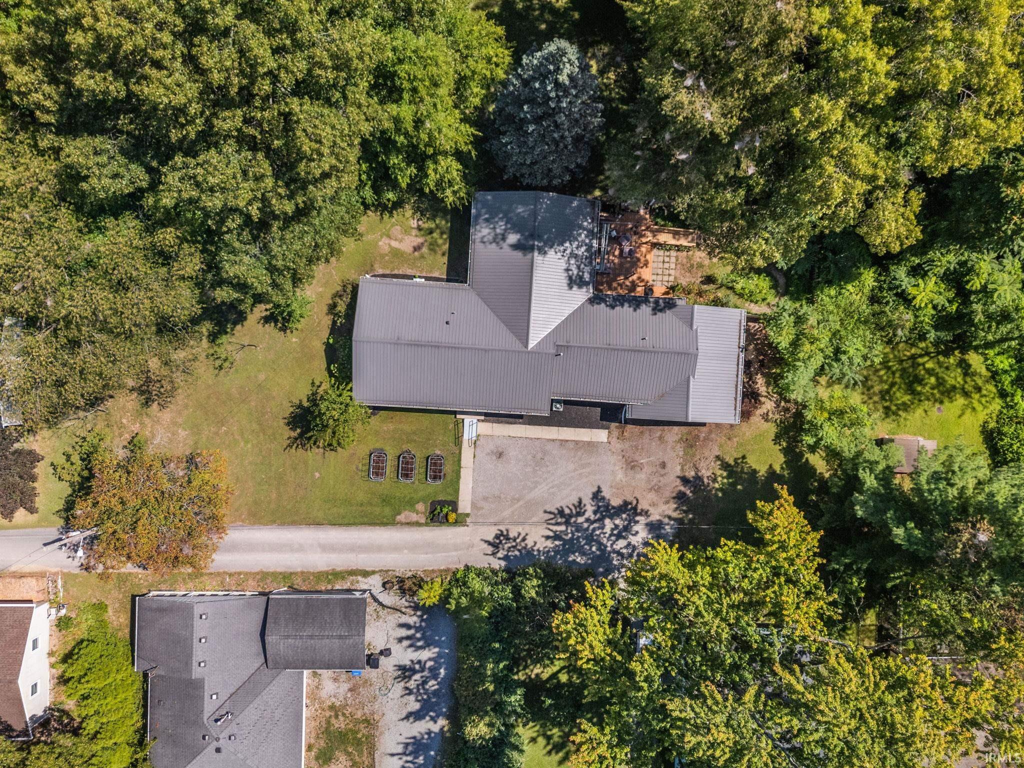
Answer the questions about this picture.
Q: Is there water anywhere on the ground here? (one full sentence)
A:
No, no water is visible.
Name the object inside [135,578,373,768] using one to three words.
house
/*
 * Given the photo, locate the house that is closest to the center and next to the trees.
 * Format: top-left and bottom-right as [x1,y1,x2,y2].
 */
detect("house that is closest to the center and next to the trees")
[352,191,748,425]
